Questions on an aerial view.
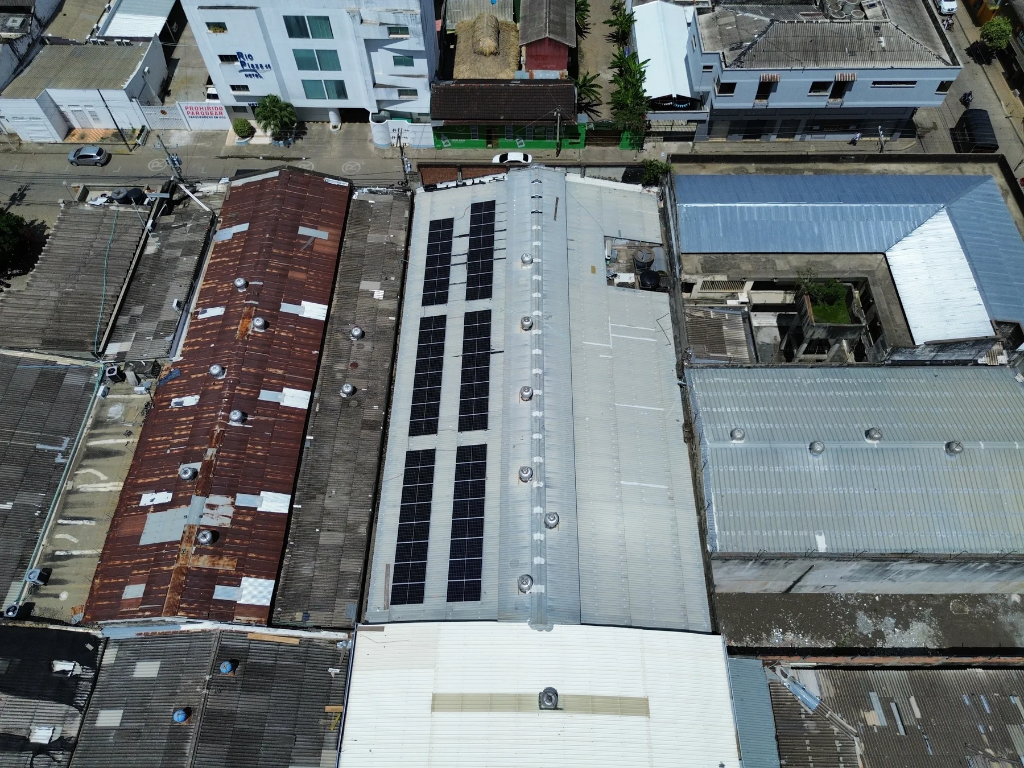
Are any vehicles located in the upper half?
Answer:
Yes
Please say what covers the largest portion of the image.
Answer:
buildings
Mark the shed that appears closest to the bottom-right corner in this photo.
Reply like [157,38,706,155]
[765,664,1024,768]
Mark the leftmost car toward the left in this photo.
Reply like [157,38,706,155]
[62,143,111,167]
